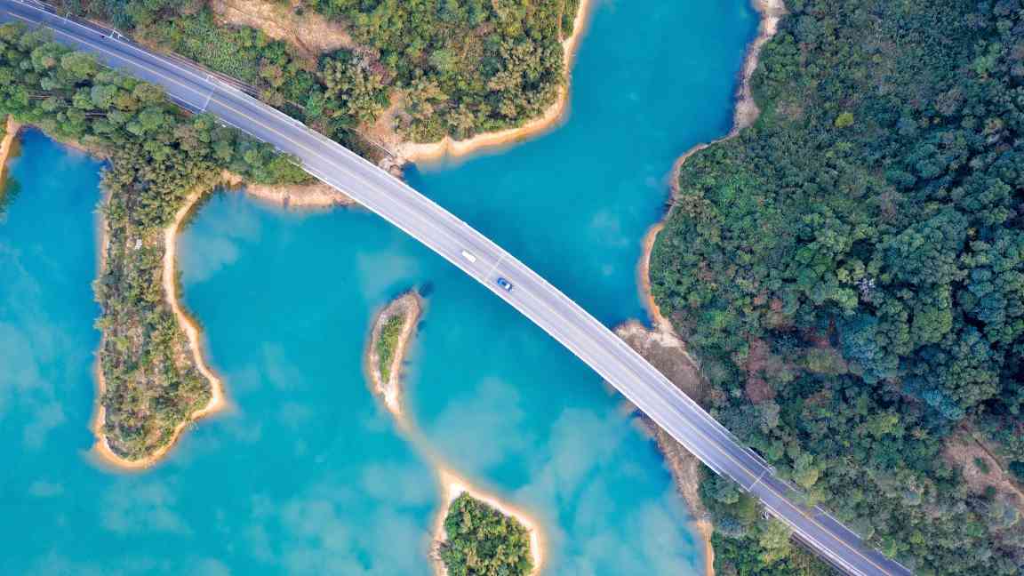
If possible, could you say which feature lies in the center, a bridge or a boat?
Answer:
bridge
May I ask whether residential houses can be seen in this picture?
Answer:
No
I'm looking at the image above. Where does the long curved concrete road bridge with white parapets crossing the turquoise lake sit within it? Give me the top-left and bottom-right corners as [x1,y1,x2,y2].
[203,77,770,489]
